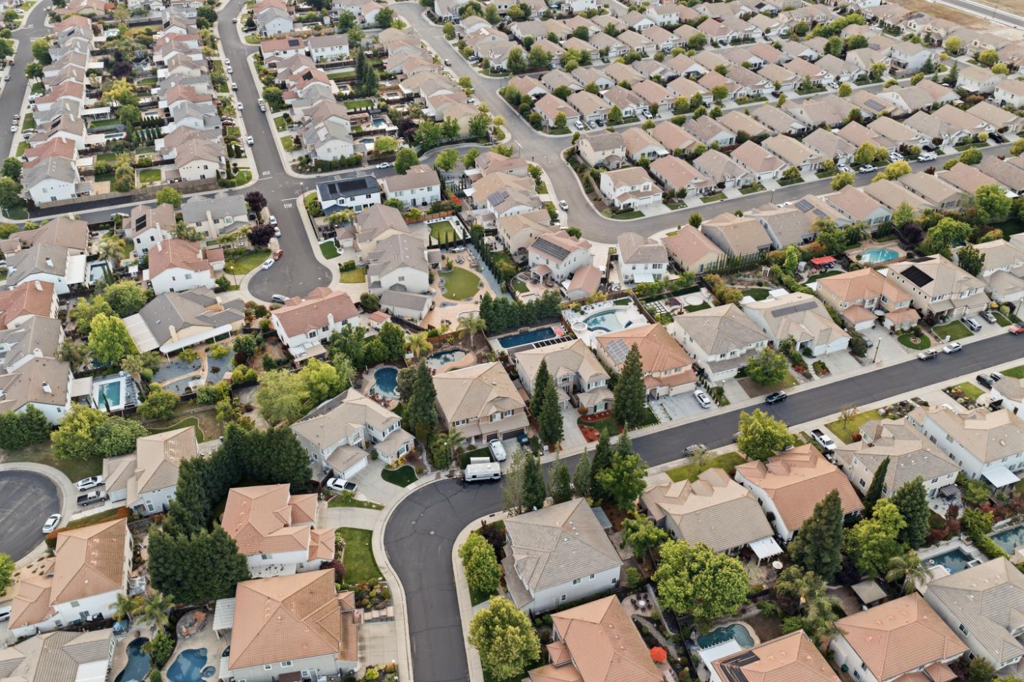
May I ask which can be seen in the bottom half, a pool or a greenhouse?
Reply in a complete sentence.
The feature located in the bottom half is a pool.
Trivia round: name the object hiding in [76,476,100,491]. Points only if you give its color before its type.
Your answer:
white car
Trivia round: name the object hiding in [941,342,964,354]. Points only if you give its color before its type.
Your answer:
white vehicle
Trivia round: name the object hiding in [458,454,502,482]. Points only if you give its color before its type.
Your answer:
white trailer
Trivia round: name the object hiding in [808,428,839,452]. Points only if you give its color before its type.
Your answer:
white truck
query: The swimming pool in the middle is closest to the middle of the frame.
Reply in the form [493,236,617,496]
[497,326,556,349]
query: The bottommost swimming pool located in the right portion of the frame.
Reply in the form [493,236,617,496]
[697,622,757,650]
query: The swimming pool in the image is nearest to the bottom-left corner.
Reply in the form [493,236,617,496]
[117,635,154,682]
